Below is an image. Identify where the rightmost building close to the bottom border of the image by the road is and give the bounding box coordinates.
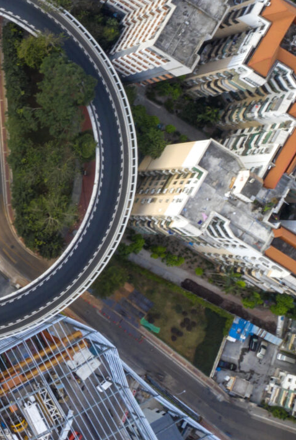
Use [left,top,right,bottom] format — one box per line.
[238,357,296,418]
